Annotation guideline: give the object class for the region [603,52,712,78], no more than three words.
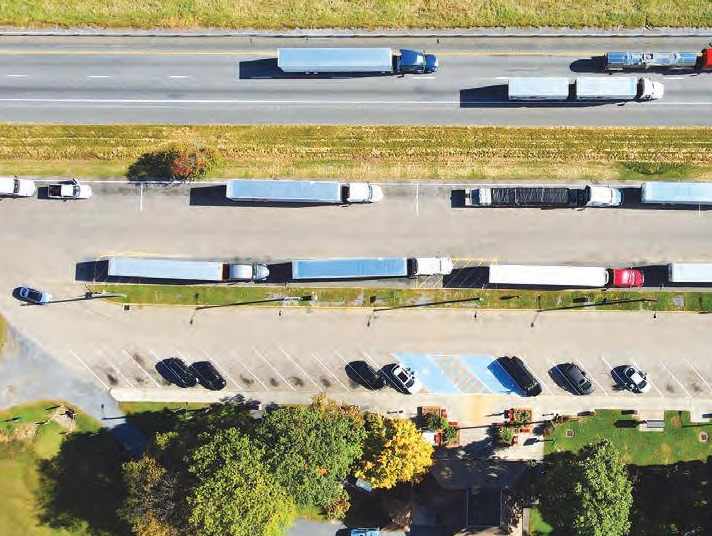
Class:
truck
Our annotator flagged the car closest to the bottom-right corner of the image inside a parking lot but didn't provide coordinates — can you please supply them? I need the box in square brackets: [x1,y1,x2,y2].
[621,363,648,392]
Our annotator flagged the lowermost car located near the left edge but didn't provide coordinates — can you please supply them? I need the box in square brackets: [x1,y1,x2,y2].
[20,288,54,304]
